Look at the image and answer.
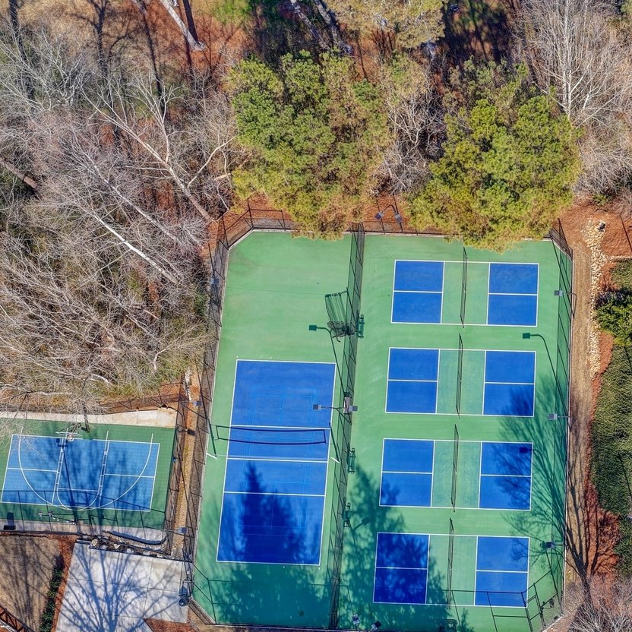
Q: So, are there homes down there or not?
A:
No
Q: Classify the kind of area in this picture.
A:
sports ground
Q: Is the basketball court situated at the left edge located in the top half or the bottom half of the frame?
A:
bottom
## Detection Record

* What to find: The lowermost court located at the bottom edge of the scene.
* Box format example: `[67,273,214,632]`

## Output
[337,518,564,632]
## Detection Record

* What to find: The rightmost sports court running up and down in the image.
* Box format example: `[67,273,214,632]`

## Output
[194,230,365,628]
